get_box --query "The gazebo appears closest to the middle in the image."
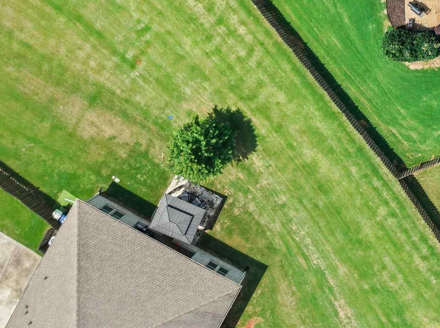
[148,186,215,245]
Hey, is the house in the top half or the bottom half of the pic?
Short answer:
bottom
